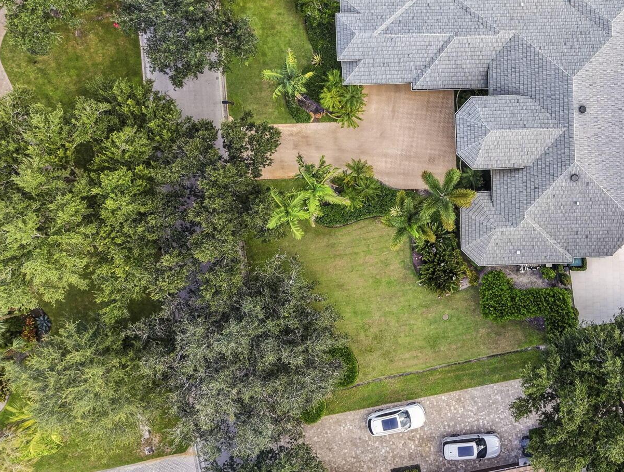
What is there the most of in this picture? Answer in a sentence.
For the most part, this view shows trees.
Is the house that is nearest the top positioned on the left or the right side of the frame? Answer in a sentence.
The house that is nearest the top sits on the right side.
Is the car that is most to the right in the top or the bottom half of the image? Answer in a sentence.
The car that is most to the right sits in the bottom half of the picture.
